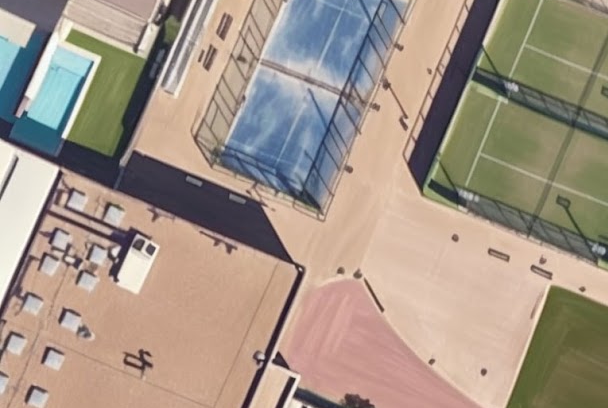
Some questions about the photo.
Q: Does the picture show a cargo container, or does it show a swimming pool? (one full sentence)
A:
This aerial view contains a swimming pool.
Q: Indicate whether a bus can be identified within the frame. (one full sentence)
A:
No, there is no bus in the image.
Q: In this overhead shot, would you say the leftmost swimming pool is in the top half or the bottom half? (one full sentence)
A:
You can find the leftmost swimming pool in the top half.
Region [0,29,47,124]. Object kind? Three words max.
swimming pool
